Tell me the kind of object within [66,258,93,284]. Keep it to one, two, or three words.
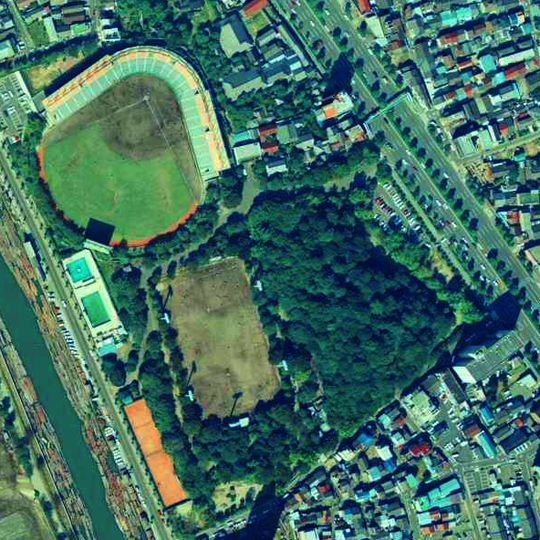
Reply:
swimming pool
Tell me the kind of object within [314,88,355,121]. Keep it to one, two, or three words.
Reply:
building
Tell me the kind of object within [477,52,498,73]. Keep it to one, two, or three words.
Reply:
house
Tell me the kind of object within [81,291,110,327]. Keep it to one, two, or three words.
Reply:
swimming pool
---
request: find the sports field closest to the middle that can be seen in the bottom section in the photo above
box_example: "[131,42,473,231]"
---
[166,256,280,419]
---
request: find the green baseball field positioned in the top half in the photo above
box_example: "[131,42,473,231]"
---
[37,73,202,248]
